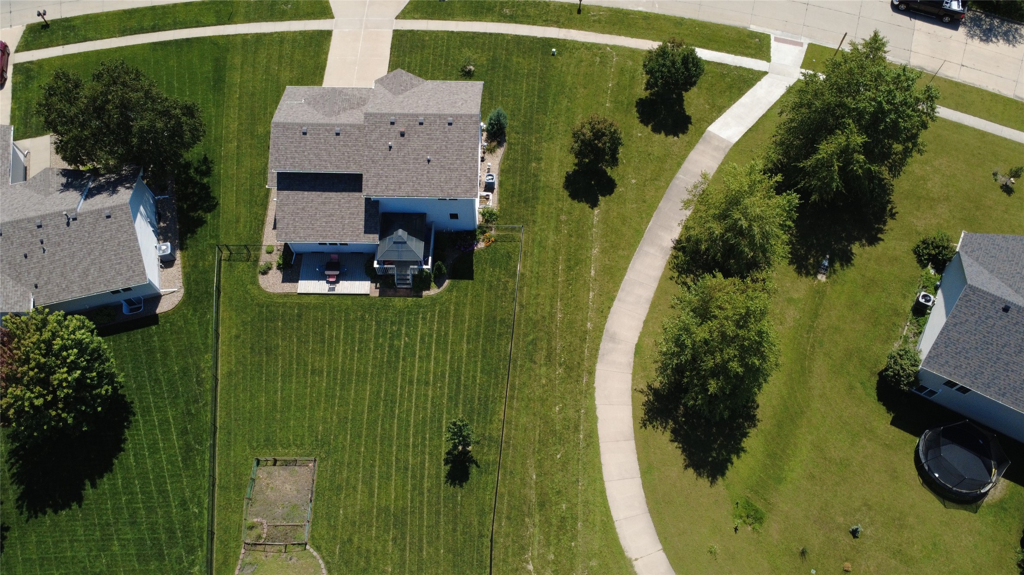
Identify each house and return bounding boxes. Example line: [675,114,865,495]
[267,66,482,255]
[903,230,1024,442]
[0,125,177,331]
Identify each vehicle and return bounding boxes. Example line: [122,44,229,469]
[0,38,12,86]
[888,0,970,26]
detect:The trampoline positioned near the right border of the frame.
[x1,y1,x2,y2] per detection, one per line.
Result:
[914,420,1011,503]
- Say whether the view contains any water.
No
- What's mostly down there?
grass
